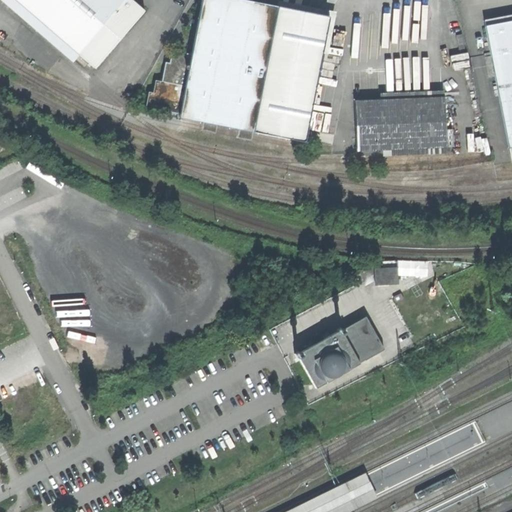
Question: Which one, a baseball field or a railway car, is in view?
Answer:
railway car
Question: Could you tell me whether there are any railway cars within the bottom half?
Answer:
Yes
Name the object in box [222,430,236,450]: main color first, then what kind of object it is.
white vehicle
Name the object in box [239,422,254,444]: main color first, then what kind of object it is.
white vehicle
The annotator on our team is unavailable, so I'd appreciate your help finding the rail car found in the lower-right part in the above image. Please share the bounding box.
[415,471,458,496]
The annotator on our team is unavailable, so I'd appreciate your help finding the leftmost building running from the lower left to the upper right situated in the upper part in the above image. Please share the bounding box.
[77,0,146,68]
